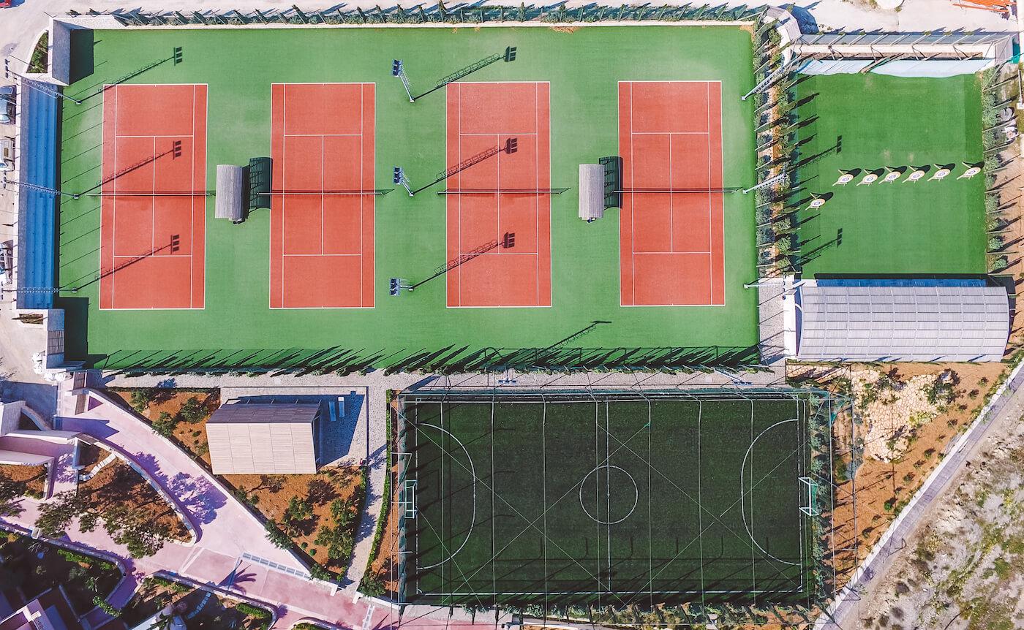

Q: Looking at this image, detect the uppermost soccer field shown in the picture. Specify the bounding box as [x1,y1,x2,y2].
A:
[406,387,810,605]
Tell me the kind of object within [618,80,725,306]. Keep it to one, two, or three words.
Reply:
tennis court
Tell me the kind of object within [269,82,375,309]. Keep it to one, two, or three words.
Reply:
tennis court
